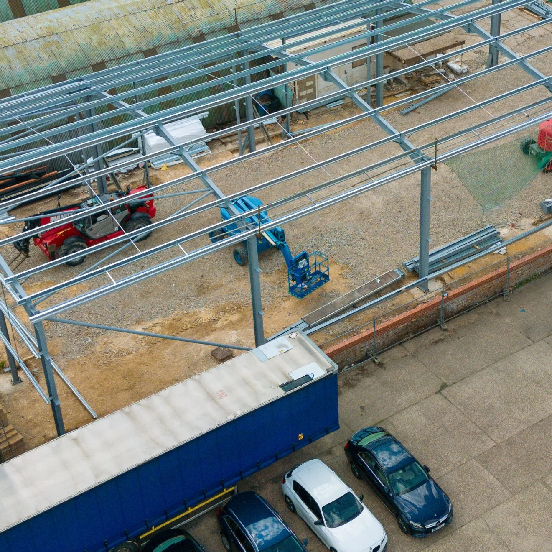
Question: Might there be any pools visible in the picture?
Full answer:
No, the picture doesn't show any pool.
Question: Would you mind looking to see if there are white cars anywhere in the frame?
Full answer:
Yes, a white car appears in the view.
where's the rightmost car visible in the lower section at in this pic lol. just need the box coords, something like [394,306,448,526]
[341,425,457,540]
